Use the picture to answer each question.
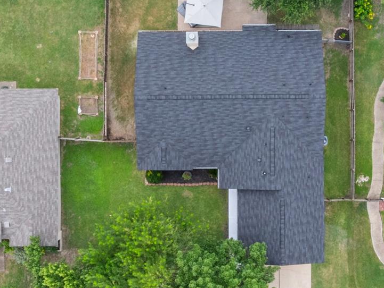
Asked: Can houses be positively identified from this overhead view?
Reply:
Yes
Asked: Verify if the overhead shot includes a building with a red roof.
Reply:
No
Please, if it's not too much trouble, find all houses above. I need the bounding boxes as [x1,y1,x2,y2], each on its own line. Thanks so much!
[0,88,62,256]
[135,24,325,266]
